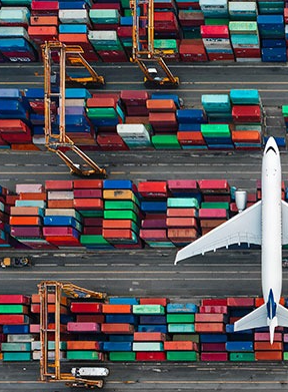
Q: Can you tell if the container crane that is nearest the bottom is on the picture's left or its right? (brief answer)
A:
left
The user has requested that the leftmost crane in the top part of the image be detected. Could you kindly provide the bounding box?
[41,40,108,177]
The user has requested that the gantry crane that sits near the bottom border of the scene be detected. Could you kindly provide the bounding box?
[36,281,103,387]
